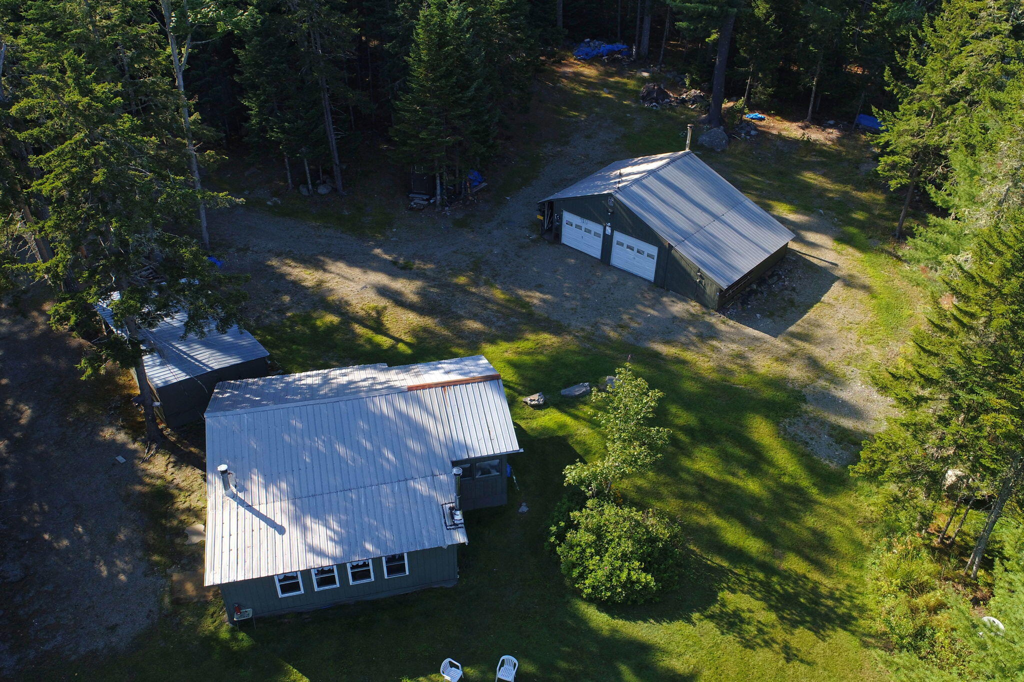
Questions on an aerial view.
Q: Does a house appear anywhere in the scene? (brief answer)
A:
Yes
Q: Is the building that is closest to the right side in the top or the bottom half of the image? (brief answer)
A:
top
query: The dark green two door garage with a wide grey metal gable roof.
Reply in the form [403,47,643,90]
[536,125,793,315]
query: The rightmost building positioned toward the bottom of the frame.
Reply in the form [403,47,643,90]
[205,353,529,626]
